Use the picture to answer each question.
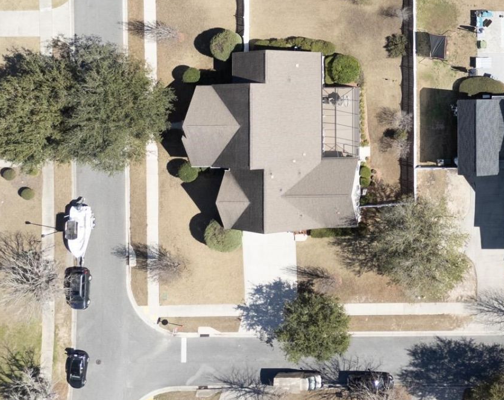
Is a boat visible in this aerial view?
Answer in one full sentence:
Yes, this view includes a boat.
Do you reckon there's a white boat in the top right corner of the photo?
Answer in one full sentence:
No, no white boat can be made out in the top right corner of the photo.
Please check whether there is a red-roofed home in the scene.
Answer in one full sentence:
No, there appears to be no red-roofed home in this shot.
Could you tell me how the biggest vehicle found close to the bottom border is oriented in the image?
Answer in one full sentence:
I'd say the biggest vehicle found close to the bottom border is aligned from left to right in the picture.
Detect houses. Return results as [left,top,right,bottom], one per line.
[183,51,364,236]
[458,96,504,176]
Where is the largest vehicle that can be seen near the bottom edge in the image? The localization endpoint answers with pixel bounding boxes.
[271,371,322,395]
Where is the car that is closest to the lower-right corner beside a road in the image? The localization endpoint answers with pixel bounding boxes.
[349,372,392,391]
